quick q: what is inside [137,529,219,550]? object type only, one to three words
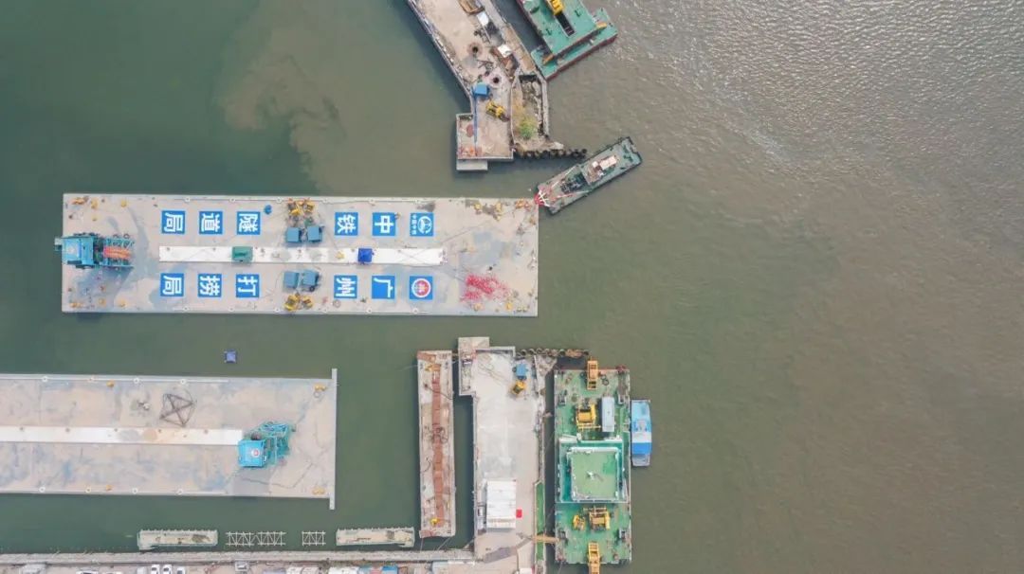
pier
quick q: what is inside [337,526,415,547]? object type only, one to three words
pier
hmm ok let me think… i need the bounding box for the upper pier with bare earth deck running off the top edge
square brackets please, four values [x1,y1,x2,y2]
[407,0,561,173]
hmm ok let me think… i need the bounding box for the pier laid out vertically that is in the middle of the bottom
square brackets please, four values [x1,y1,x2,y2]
[458,337,555,574]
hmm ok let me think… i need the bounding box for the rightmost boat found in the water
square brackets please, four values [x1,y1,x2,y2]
[631,400,652,466]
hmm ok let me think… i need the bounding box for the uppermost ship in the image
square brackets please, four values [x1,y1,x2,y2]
[516,0,617,81]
